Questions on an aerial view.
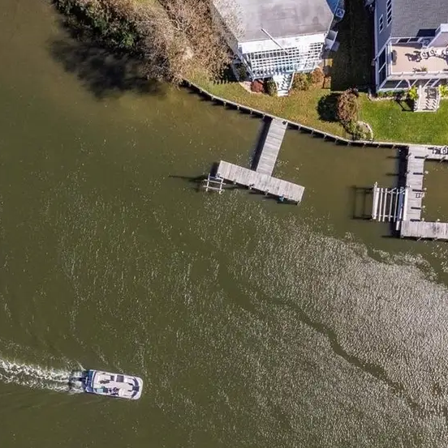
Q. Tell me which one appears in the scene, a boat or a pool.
boat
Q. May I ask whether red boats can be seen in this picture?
No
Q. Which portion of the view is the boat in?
bottom left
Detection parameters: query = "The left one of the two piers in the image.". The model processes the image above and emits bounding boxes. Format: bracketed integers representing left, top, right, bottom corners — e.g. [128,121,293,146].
[216,118,304,206]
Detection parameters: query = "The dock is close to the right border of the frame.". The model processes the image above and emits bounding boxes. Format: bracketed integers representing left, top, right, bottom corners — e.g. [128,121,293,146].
[398,146,448,242]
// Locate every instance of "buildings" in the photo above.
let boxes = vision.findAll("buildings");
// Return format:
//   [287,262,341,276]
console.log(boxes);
[214,0,340,104]
[375,0,448,110]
